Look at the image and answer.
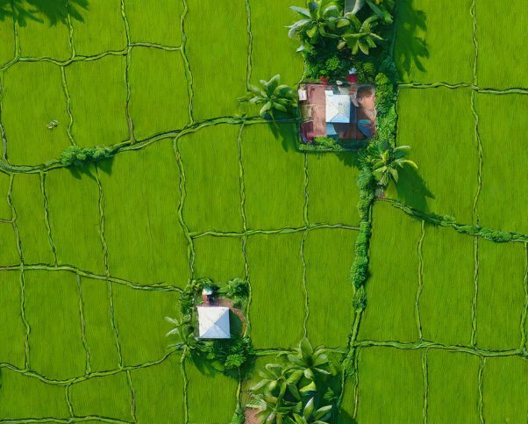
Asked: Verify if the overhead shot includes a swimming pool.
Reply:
No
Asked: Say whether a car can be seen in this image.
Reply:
No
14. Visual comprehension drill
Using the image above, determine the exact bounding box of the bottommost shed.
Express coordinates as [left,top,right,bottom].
[197,307,231,339]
